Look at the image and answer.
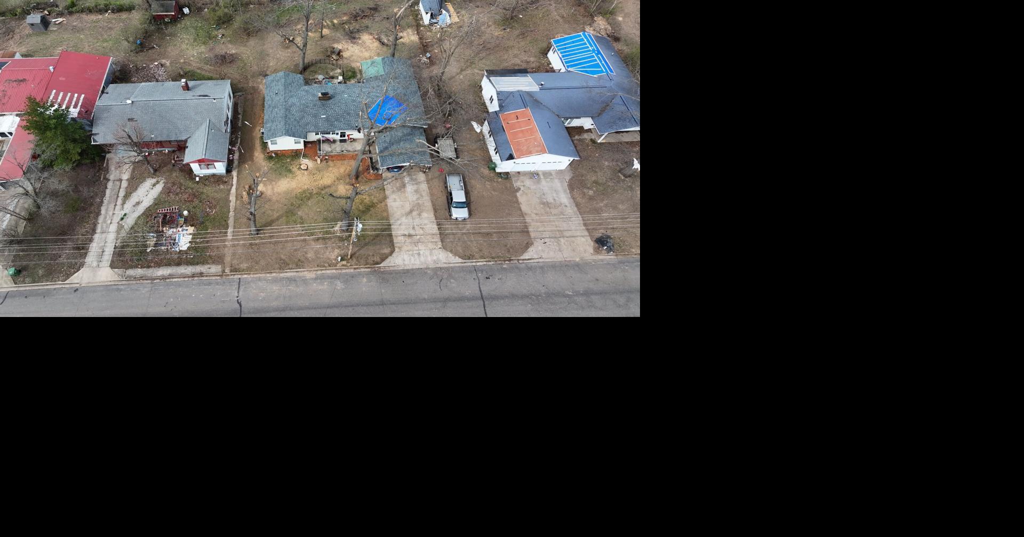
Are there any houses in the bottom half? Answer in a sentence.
No, no house can be made out in the bottom half.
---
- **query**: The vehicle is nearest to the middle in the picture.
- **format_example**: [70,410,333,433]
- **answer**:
[441,170,471,223]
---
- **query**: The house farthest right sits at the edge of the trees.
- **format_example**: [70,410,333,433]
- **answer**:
[480,30,641,172]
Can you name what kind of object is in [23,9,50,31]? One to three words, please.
shed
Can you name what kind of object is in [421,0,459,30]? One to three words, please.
shed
